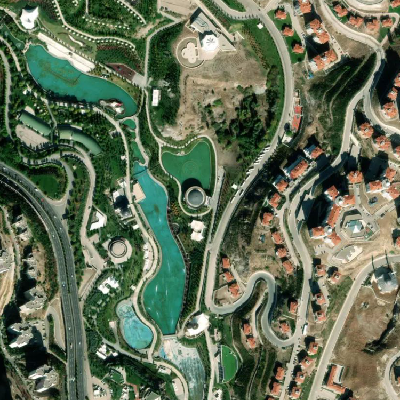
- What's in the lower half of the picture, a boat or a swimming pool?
swimming pool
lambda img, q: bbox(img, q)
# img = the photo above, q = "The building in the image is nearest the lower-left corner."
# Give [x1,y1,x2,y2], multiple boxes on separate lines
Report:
[30,364,59,390]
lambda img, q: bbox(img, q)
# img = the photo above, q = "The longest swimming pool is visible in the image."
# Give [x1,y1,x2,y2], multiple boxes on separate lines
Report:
[117,304,153,349]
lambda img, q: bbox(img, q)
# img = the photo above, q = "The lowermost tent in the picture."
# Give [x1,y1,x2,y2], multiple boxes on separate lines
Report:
[188,313,209,335]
